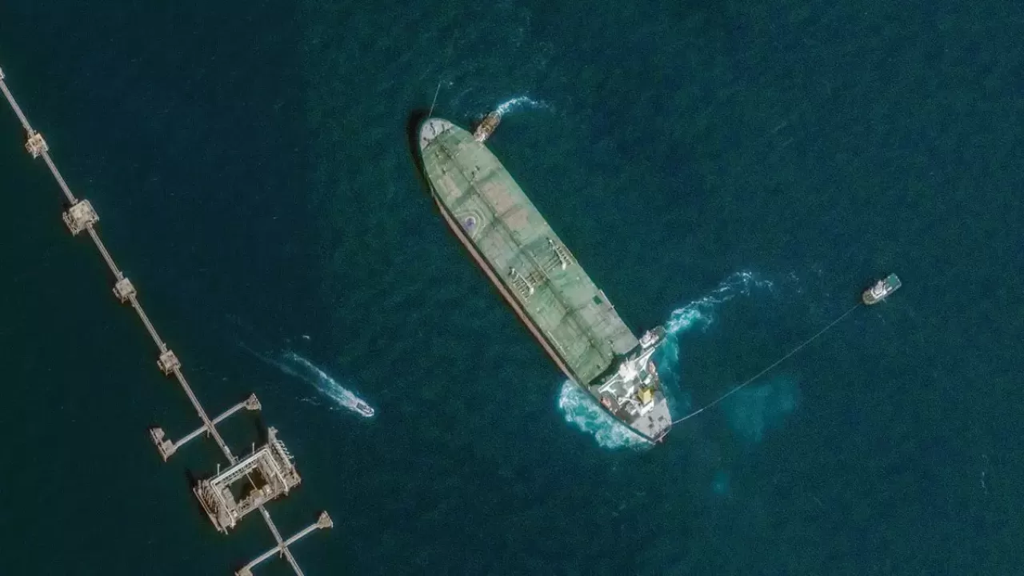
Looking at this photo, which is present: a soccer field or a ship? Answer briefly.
ship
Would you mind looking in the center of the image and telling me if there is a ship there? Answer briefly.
Yes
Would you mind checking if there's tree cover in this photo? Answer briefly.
No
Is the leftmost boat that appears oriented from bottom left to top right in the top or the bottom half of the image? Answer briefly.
top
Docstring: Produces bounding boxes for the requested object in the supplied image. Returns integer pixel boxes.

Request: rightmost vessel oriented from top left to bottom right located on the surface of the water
[420,117,671,447]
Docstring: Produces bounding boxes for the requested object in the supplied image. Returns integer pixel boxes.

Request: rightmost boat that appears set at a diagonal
[862,273,901,303]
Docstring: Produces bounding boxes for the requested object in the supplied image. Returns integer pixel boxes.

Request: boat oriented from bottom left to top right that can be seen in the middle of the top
[474,110,502,145]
